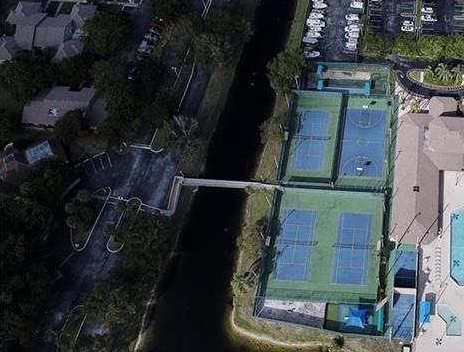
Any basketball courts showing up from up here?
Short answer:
Yes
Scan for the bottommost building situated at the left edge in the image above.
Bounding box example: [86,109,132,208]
[0,158,28,191]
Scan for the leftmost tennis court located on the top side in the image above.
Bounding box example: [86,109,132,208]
[282,94,344,181]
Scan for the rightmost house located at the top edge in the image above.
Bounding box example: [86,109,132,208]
[31,4,97,67]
